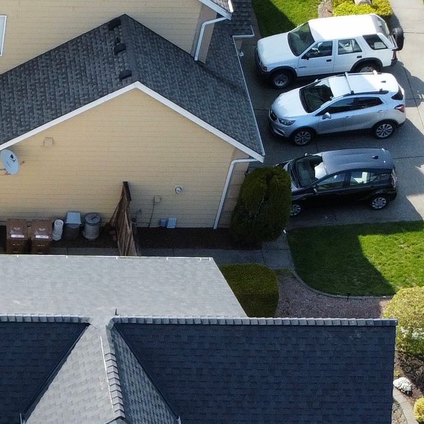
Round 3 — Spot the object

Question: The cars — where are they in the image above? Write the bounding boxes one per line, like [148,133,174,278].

[243,3,403,89]
[267,65,415,147]
[266,143,407,218]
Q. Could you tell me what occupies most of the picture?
buildings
